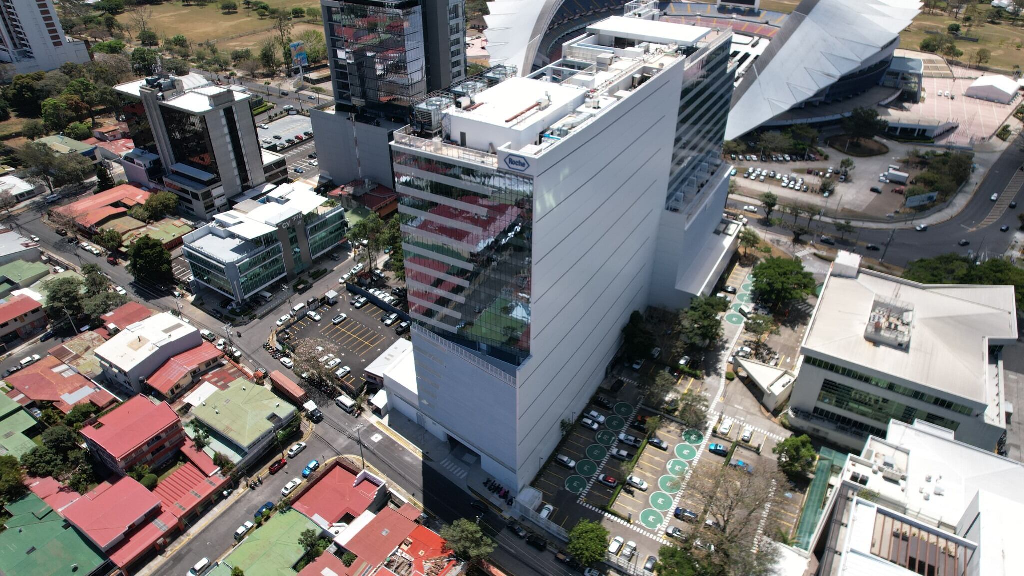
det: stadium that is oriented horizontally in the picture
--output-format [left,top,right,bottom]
[496,0,930,140]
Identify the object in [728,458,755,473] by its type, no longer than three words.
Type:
vehicle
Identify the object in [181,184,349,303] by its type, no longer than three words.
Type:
building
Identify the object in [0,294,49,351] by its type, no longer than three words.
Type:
house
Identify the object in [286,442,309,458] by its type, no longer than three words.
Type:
car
